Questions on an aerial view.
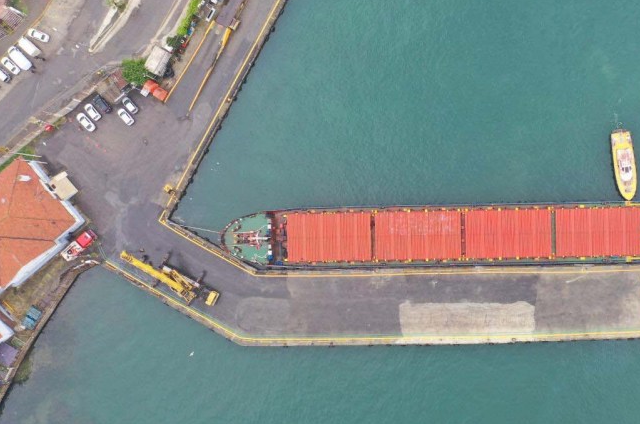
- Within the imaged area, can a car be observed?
Yes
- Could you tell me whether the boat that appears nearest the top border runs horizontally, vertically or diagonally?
vertically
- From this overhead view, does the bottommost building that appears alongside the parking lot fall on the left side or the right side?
left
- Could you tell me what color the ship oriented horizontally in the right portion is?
red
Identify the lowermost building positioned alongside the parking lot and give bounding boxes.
[0,157,84,294]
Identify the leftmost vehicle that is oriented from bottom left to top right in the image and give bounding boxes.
[59,230,97,260]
